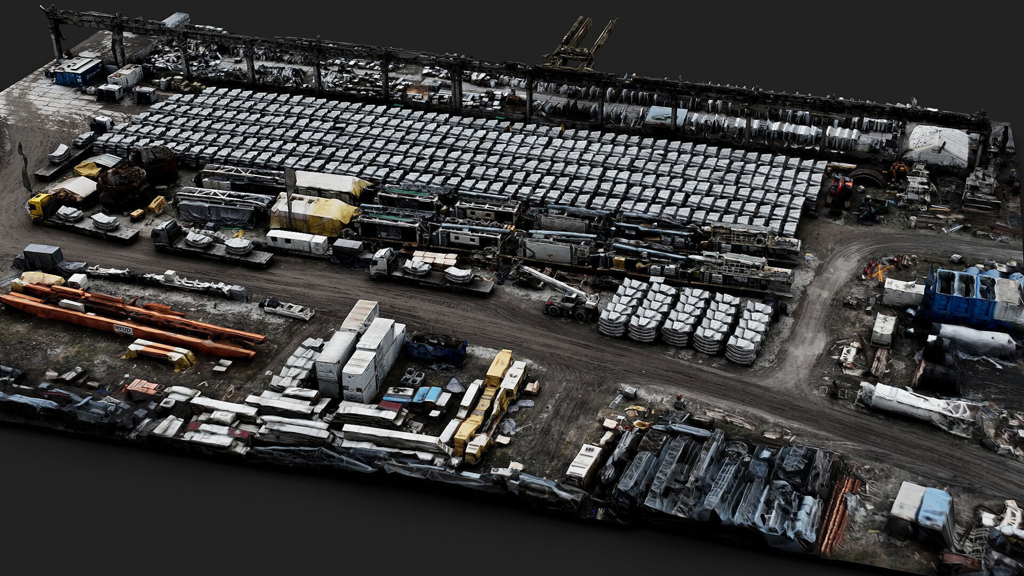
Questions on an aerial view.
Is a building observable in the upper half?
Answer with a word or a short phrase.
Yes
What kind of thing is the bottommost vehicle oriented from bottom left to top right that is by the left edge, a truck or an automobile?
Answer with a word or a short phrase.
truck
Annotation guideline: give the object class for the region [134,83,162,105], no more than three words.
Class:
building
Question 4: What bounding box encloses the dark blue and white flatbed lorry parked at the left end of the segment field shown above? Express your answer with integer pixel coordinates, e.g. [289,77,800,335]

[31,117,105,175]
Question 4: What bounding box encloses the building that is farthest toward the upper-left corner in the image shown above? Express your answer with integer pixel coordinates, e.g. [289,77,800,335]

[98,81,128,104]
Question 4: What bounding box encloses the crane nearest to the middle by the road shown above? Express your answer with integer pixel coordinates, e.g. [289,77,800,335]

[520,263,603,322]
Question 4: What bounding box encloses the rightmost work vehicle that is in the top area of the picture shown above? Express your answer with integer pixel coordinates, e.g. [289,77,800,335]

[828,181,857,221]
